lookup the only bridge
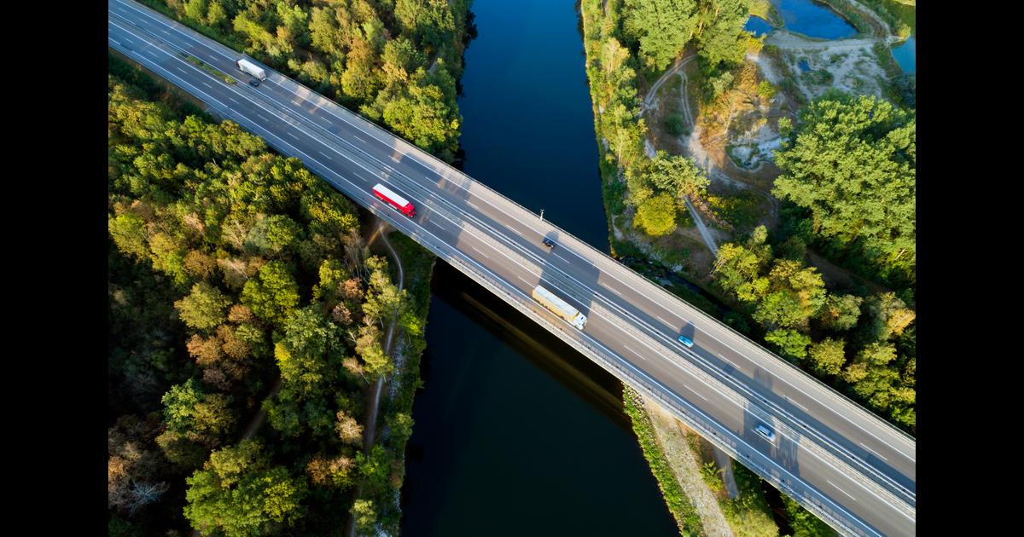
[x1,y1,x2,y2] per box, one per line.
[215,74,1024,537]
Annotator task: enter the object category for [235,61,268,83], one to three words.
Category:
truck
